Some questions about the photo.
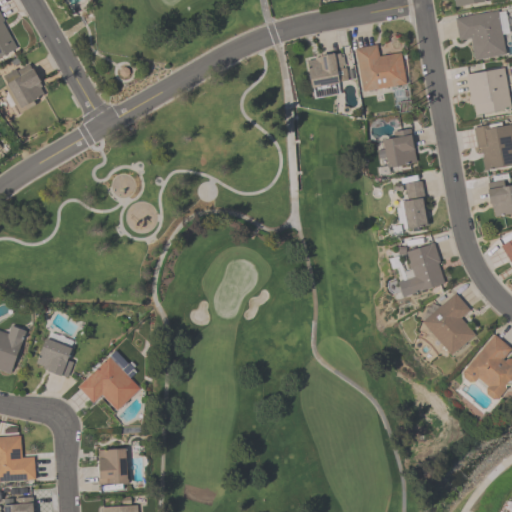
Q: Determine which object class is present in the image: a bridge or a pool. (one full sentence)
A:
I can see a pool in this picture.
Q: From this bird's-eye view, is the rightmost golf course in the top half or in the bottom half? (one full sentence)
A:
Seen from above, the rightmost golf course lies in the bottom half of the view.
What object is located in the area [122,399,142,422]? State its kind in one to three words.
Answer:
swimming pool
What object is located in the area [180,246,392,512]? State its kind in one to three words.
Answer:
golf course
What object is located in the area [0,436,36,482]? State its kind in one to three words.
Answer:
house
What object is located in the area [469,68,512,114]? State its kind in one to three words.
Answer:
house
